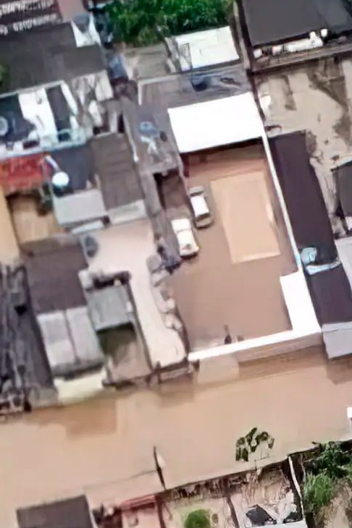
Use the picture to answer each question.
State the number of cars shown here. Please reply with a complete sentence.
In total, 2 cars can be seen.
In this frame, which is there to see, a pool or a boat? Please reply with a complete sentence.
Looking from above, you can make out a pool.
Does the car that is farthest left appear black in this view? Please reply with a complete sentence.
No, from above the car that is farthest left looks white.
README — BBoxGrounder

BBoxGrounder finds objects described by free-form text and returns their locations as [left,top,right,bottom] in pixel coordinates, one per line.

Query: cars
[170,220,201,265]
[188,189,216,231]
